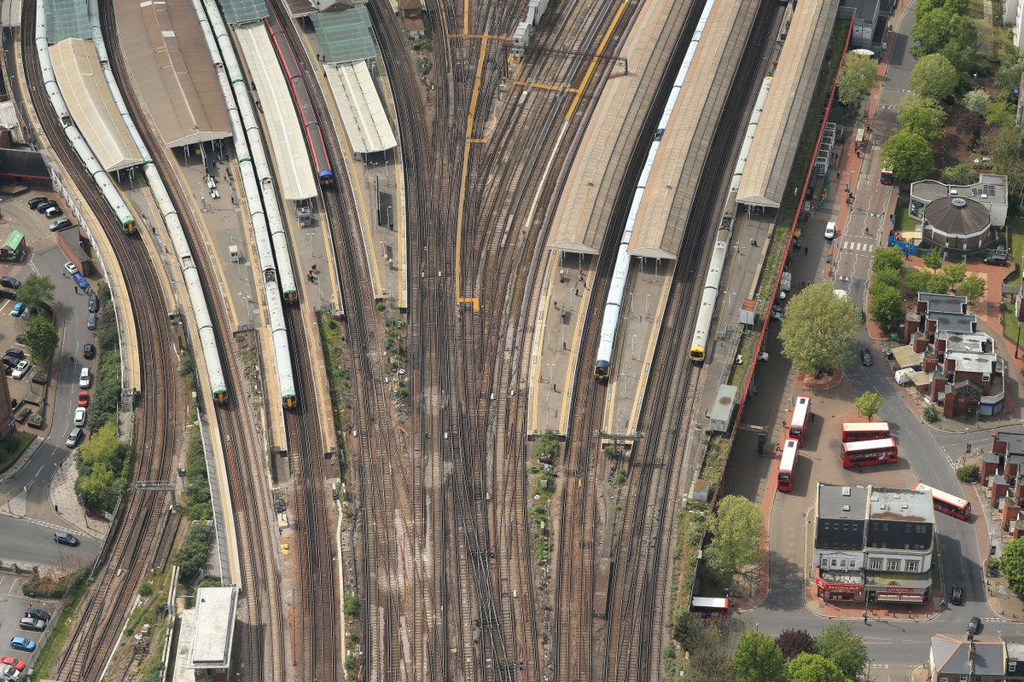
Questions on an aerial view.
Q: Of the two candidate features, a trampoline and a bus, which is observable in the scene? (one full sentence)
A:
I can see a bus in this picture.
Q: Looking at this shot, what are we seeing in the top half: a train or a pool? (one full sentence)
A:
Looking in the top half, you will find a train.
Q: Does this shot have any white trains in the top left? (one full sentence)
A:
Yes, a white train can be seen in the top left.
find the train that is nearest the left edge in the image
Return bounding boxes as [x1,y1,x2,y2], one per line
[34,0,136,235]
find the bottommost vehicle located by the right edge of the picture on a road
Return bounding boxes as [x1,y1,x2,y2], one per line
[968,615,982,634]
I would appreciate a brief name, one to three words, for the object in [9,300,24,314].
car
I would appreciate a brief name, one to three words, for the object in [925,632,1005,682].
house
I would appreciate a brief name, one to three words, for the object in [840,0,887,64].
building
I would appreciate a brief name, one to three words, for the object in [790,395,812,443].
bus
